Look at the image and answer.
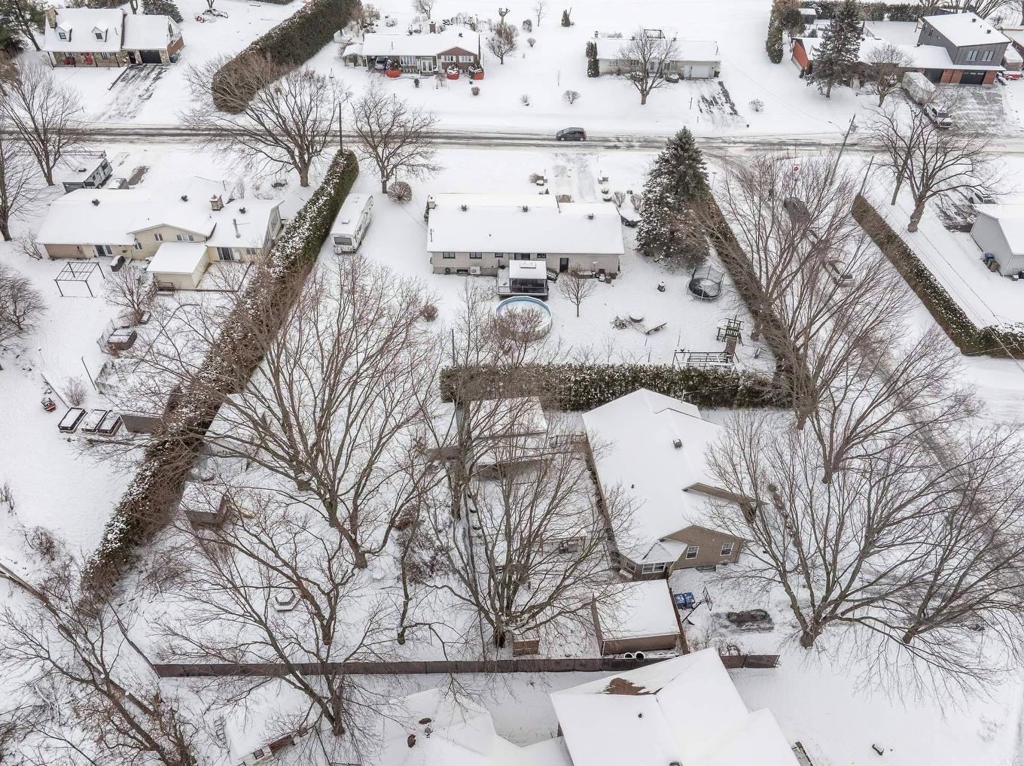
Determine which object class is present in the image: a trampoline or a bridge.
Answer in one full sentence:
It is a trampoline that can be seen here.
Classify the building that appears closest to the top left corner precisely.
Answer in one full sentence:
It turns out the building that appears closest to the top left corner is a house.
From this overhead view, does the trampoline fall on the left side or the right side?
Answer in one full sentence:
You can find the trampoline on the right side of the picture.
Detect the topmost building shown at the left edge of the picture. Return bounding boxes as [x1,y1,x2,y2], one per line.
[38,5,191,68]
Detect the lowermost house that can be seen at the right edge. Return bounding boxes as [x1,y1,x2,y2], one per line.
[953,198,1024,276]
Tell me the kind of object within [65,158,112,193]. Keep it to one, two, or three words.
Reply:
trailer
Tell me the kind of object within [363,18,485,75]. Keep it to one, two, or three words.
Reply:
house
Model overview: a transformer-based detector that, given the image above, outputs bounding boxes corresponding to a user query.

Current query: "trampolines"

[685,263,729,308]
